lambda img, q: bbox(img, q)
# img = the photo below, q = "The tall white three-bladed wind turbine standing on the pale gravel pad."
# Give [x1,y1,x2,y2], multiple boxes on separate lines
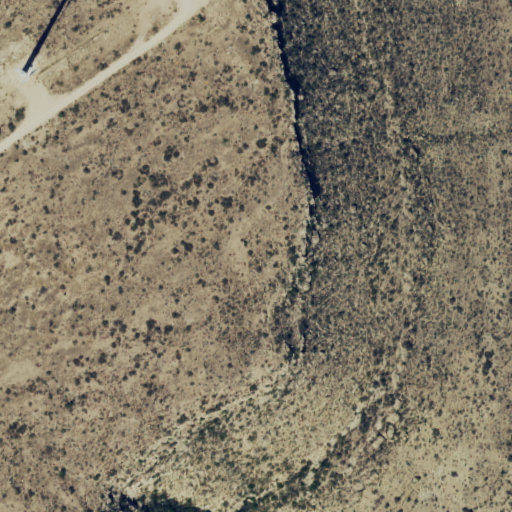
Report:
[8,50,44,102]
